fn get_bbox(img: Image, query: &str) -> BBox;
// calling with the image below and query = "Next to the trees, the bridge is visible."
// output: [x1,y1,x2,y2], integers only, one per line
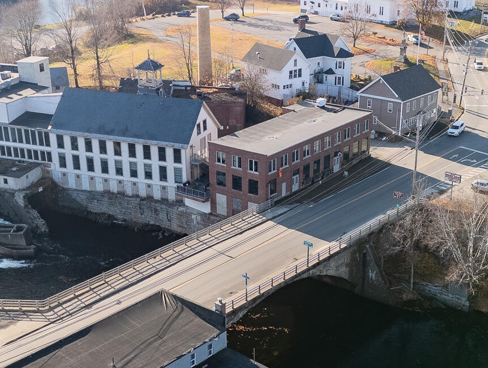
[0,198,416,337]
